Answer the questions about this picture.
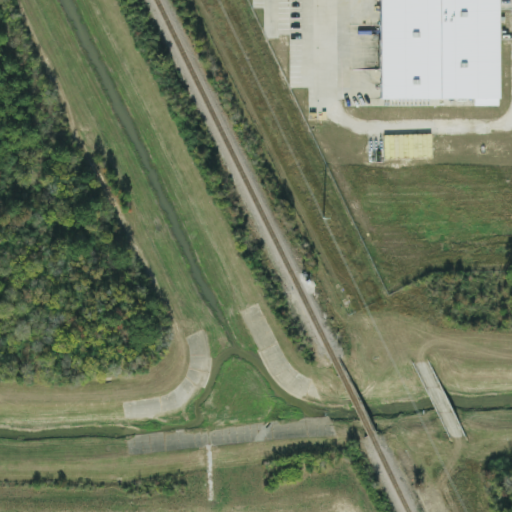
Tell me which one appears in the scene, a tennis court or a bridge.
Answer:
bridge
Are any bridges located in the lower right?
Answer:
Yes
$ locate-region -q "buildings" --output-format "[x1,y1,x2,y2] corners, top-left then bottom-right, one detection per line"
[381,0,503,106]
[385,134,432,160]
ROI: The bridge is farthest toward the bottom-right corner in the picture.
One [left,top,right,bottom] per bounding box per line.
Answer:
[414,356,464,442]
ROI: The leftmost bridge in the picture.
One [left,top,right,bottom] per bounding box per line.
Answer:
[328,353,377,440]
